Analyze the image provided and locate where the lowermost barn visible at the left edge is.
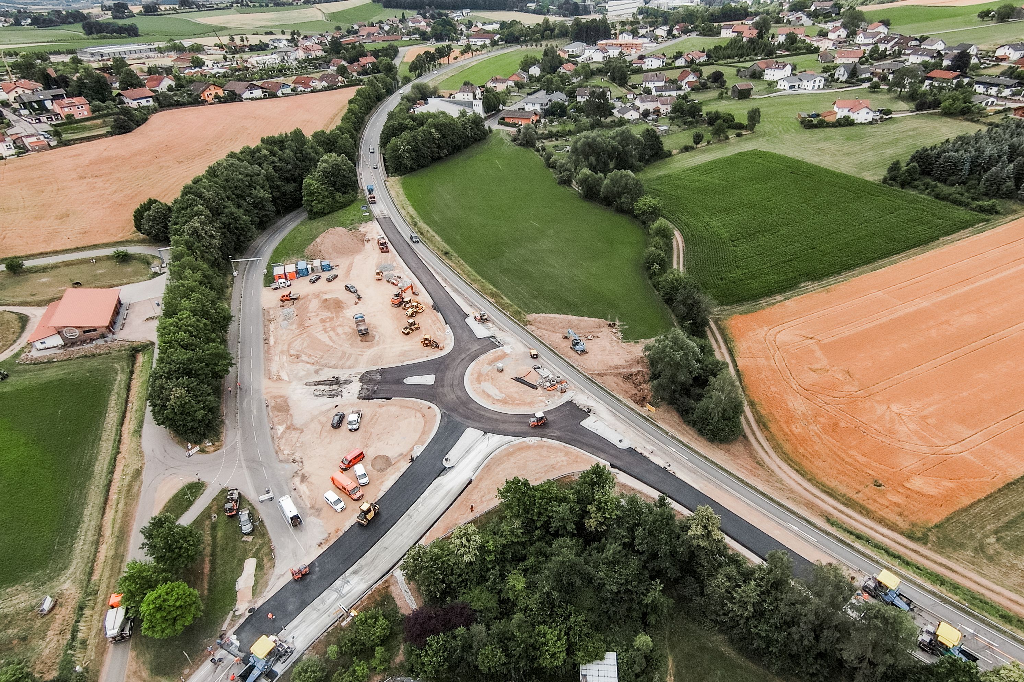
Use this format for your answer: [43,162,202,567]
[15,289,124,354]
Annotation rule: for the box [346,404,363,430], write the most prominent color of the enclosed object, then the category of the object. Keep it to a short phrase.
white vehicle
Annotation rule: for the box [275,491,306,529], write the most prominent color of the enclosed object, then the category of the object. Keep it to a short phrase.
white van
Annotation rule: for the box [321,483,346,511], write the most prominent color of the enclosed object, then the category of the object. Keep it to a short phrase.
white car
